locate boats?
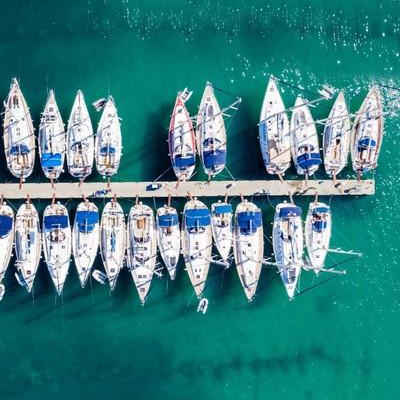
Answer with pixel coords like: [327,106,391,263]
[0,195,18,282]
[182,191,222,310]
[92,269,108,286]
[181,88,192,102]
[0,71,38,189]
[64,81,96,186]
[12,270,26,289]
[305,190,359,285]
[319,82,386,184]
[234,191,286,313]
[41,194,71,309]
[99,194,128,300]
[91,98,108,111]
[14,193,42,304]
[72,194,99,298]
[169,87,202,187]
[259,66,319,184]
[291,90,342,184]
[318,83,336,99]
[0,281,8,298]
[197,299,209,316]
[270,191,342,310]
[159,191,186,290]
[209,191,241,277]
[92,93,122,186]
[348,79,400,183]
[197,71,240,186]
[38,78,66,187]
[124,192,158,316]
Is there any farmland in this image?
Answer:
No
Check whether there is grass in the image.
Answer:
No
